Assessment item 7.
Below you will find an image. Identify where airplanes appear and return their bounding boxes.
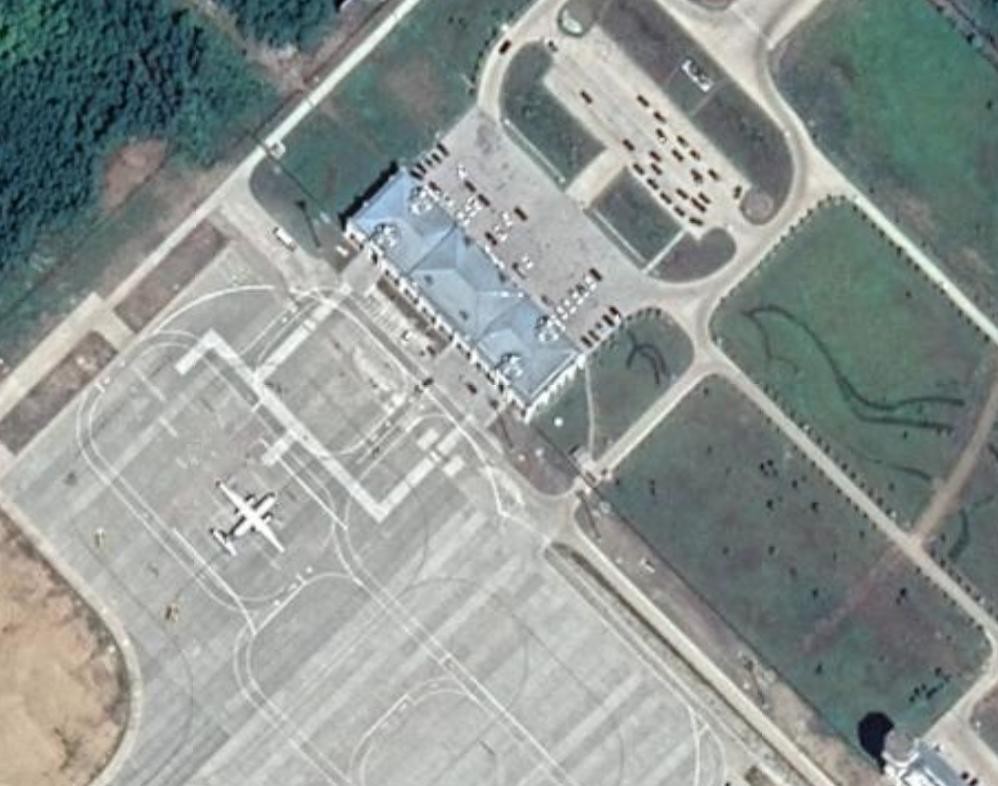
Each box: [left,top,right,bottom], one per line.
[213,482,288,553]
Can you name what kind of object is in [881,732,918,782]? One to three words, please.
building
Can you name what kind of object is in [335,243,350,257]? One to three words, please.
vehicle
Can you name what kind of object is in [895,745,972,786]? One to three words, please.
building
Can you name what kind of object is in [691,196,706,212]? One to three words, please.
vehicle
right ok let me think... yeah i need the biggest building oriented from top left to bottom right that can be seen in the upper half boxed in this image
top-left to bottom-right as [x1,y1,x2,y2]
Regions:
[346,169,587,420]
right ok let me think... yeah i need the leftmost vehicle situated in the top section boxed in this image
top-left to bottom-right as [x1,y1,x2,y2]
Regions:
[275,226,294,247]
